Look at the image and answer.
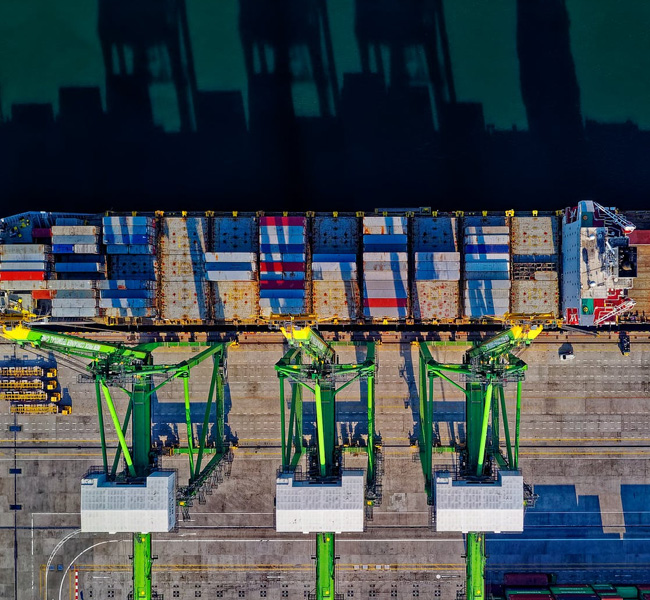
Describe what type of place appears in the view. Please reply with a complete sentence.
The area seen from above is a port.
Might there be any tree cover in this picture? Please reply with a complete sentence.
No, there's no tree cover in this view.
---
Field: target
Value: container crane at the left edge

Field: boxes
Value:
[0,312,234,600]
